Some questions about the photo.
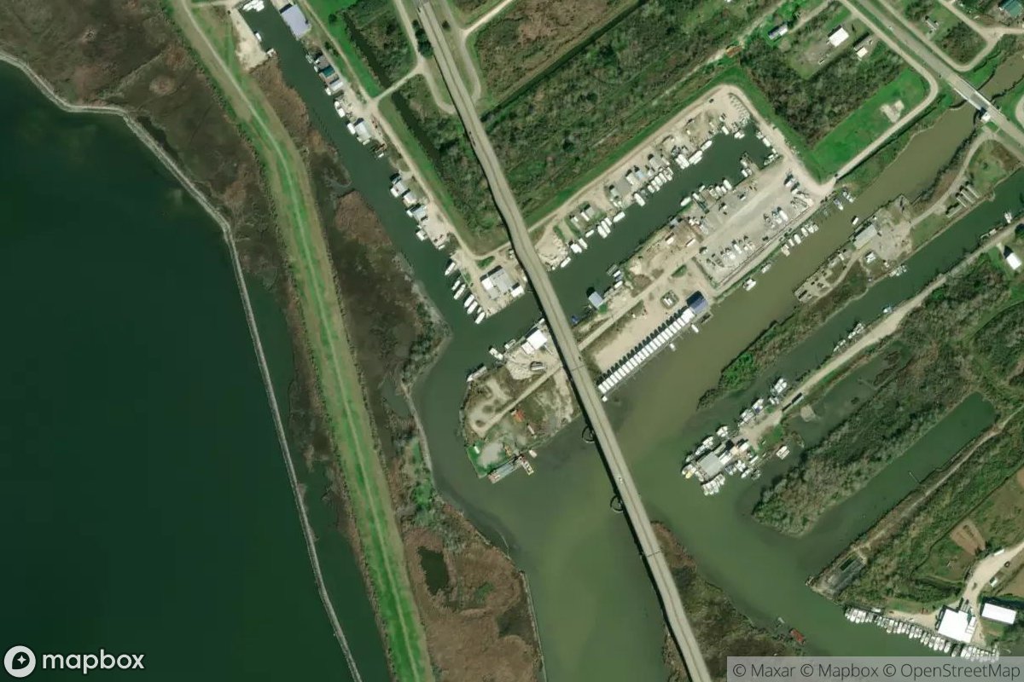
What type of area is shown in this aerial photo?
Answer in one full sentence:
What you see here is a port.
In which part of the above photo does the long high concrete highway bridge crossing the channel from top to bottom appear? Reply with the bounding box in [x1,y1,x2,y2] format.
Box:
[415,0,711,682]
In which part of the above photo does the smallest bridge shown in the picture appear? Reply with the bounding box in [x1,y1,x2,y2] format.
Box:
[944,67,1008,127]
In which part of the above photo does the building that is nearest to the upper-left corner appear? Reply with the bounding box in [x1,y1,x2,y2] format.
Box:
[281,4,309,36]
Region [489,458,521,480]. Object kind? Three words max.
ship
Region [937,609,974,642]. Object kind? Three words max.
building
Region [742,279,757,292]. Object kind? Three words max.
boat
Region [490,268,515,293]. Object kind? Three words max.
shed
